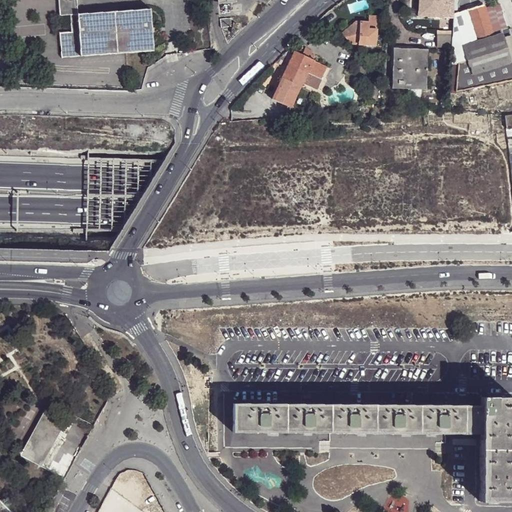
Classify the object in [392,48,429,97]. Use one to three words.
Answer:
house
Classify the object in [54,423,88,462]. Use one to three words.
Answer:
shed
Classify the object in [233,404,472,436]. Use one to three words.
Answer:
building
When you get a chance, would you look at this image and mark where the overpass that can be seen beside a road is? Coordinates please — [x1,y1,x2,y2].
[108,129,212,251]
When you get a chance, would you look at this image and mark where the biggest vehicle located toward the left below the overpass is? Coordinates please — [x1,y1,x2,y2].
[176,392,192,437]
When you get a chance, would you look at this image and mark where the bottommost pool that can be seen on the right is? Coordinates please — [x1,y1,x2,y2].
[328,88,354,104]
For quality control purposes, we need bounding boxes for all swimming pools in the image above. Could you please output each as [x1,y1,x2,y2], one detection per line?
[328,88,354,104]
[346,0,370,14]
